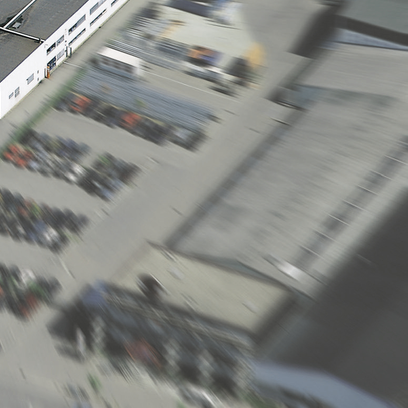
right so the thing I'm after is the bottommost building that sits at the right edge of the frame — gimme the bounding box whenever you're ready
[260,200,408,408]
